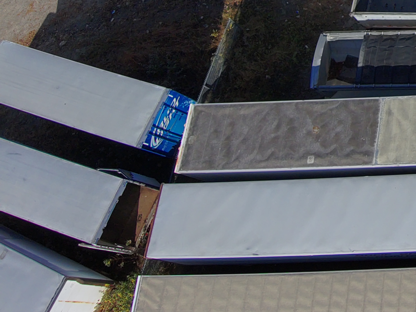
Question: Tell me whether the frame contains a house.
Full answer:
No, there isn't any house down there.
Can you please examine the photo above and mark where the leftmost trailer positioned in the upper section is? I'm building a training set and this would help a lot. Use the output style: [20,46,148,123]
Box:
[0,39,190,167]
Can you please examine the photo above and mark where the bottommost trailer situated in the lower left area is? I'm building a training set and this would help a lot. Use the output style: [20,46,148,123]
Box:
[0,227,122,312]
